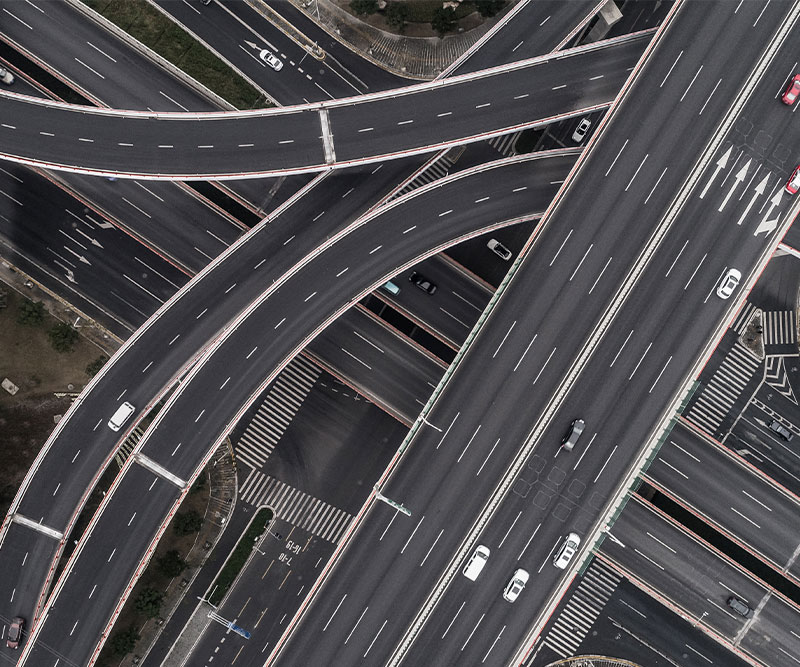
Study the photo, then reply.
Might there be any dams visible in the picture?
No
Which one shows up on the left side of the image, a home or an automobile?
automobile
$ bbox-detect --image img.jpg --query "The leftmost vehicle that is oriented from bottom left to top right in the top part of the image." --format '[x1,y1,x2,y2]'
[571,117,591,144]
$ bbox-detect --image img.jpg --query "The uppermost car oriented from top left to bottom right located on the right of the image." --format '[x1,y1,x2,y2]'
[486,239,512,261]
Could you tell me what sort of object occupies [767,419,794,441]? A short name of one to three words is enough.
car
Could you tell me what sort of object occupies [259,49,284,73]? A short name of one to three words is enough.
car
